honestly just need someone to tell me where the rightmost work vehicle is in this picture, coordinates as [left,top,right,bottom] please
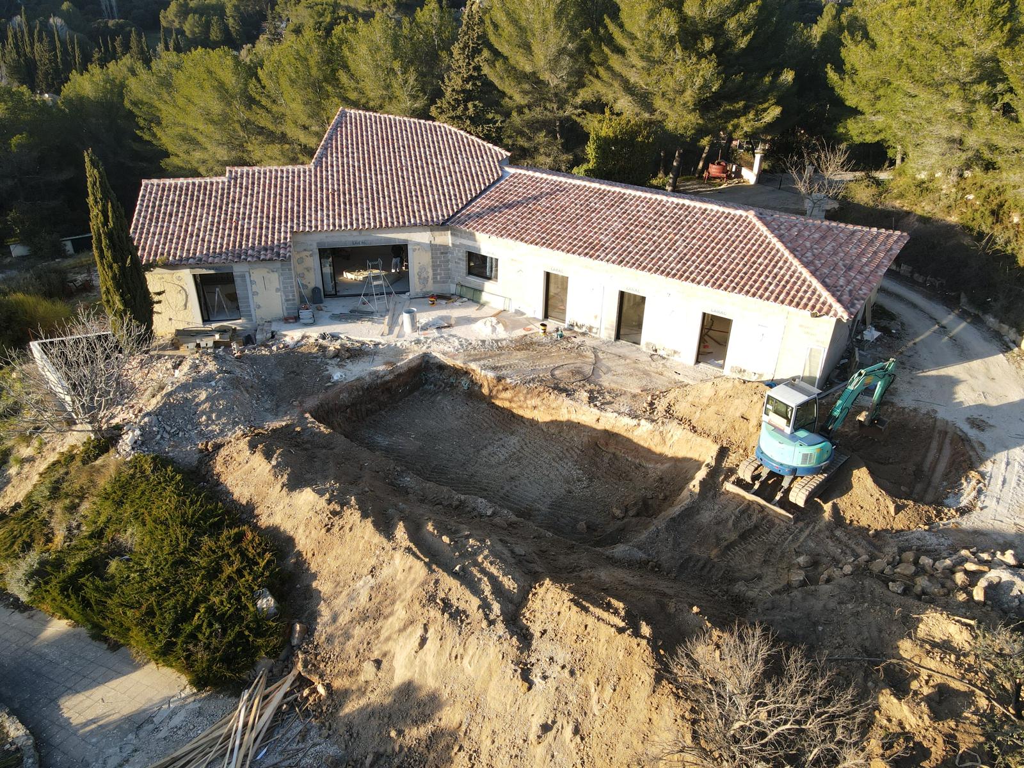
[727,356,904,526]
